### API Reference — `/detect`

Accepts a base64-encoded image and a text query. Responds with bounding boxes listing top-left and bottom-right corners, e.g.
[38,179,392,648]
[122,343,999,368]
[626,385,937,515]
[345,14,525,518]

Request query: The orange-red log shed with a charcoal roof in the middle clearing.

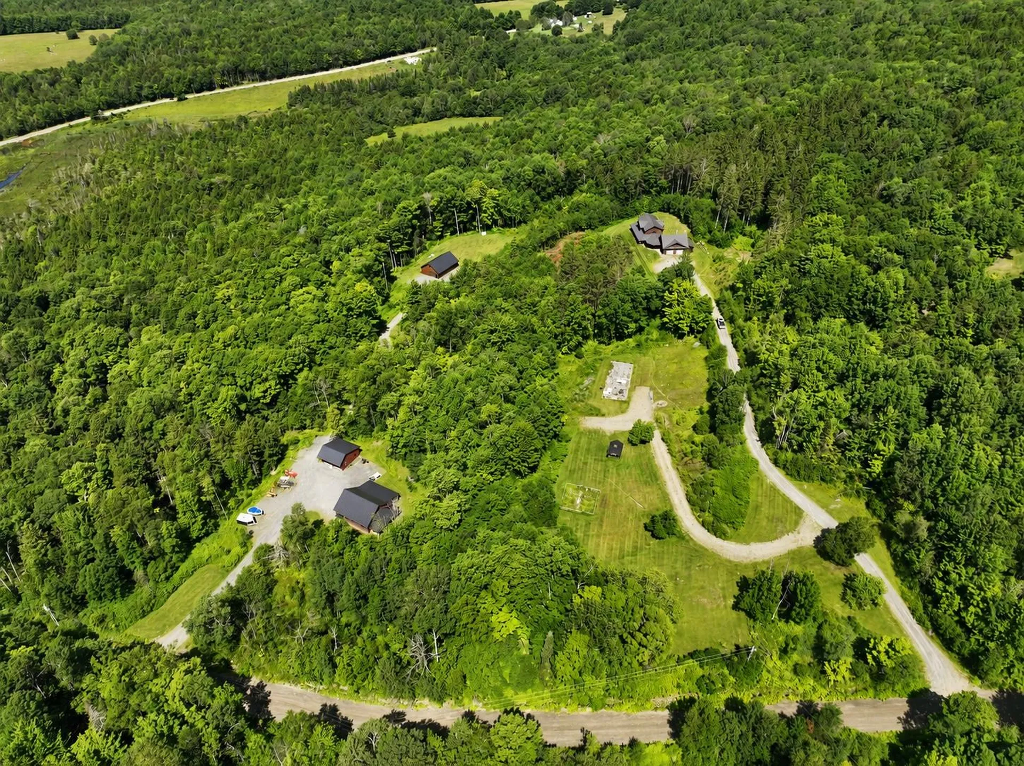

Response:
[422,252,459,280]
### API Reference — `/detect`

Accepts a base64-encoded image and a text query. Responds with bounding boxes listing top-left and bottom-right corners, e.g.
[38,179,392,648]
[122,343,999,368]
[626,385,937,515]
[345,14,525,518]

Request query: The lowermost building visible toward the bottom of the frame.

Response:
[333,480,401,535]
